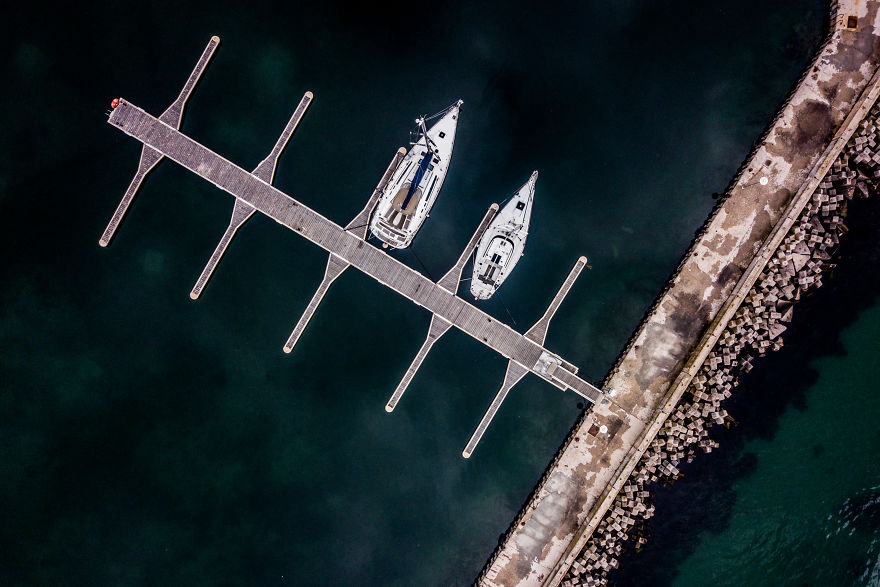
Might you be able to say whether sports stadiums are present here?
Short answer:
No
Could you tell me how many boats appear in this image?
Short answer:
two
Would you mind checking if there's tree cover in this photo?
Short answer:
No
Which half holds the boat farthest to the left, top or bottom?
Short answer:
top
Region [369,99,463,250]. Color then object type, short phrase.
white boat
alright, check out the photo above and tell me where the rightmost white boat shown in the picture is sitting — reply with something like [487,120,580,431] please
[470,170,538,300]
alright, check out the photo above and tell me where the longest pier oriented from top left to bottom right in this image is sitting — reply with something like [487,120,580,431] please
[100,36,586,458]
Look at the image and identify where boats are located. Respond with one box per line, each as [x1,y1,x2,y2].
[470,170,538,300]
[369,99,463,250]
